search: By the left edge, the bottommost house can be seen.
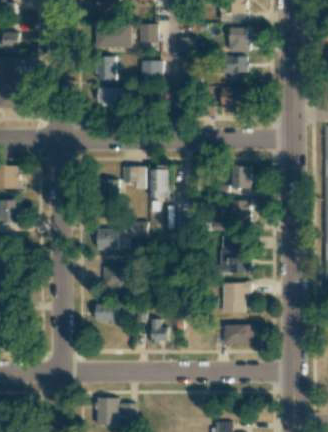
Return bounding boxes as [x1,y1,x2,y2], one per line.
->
[0,200,18,223]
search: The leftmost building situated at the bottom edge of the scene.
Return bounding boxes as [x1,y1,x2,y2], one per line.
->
[97,398,139,426]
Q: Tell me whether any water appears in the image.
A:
No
